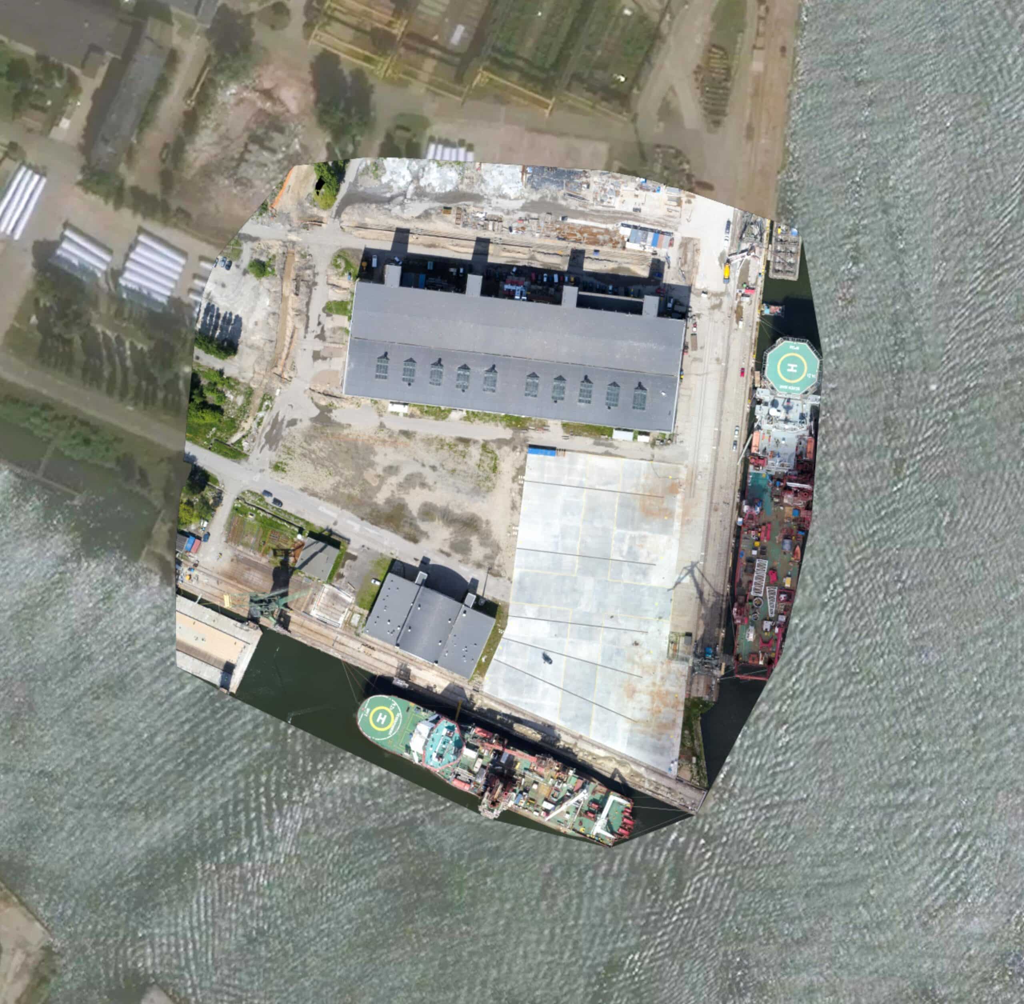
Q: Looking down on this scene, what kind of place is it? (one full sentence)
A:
The area seen from above is a port.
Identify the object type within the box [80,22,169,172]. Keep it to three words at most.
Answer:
shed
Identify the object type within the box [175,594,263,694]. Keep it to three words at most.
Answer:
pier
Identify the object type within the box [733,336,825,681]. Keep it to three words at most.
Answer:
ship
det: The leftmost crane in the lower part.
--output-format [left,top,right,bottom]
[230,585,334,624]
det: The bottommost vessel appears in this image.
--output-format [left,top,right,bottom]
[356,695,635,847]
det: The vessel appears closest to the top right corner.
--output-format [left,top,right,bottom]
[768,220,803,282]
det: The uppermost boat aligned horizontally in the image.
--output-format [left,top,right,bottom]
[761,304,785,317]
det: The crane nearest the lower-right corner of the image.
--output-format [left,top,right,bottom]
[659,630,720,678]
